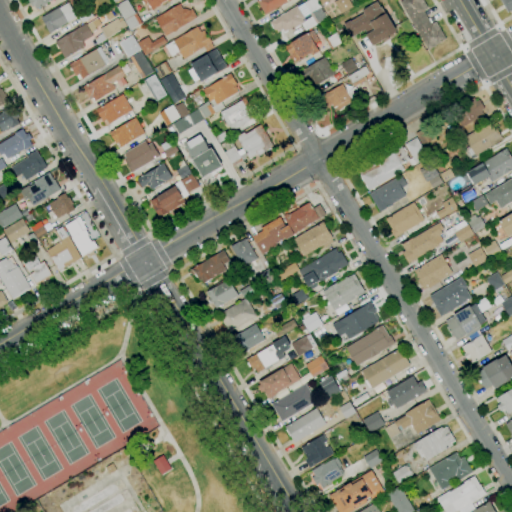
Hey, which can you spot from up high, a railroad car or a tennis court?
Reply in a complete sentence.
The image shows a tennis court.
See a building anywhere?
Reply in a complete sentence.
Yes, a building appears in the view.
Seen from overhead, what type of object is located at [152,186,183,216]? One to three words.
house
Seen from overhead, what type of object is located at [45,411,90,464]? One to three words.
tennis court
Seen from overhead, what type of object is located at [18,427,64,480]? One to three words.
tennis court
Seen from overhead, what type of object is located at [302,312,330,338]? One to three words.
building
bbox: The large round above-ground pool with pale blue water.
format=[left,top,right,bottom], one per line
[450,176,466,192]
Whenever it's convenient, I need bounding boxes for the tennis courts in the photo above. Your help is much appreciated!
[0,443,37,497]
[72,395,116,448]
[45,411,90,464]
[98,379,142,432]
[18,427,64,480]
